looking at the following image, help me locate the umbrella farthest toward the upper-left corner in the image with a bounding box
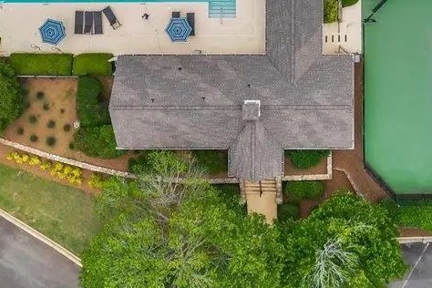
[41,18,66,45]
